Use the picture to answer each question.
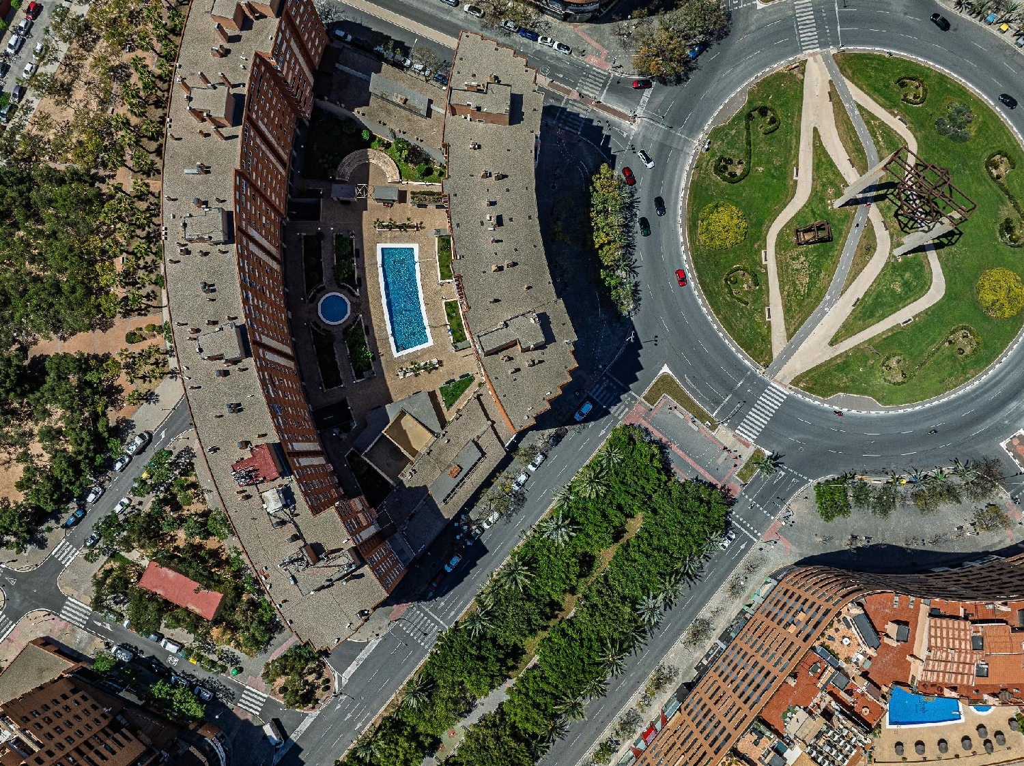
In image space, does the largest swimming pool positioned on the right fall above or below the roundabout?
below it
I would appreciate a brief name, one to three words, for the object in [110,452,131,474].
car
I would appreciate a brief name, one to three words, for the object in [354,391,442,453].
building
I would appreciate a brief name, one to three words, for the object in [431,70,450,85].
car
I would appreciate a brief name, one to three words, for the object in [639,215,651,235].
vehicle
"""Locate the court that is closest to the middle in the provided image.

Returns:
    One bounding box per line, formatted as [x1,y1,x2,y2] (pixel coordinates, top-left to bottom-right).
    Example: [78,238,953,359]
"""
[382,407,438,459]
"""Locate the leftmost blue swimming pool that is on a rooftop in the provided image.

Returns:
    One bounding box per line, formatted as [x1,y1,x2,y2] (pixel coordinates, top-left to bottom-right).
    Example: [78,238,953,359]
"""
[886,684,965,728]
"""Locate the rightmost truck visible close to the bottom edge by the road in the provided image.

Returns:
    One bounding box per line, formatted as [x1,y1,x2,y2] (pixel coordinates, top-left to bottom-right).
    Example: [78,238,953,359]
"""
[257,717,283,753]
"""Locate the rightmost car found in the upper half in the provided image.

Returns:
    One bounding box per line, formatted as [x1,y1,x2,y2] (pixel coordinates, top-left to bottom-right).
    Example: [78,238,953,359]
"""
[998,91,1021,109]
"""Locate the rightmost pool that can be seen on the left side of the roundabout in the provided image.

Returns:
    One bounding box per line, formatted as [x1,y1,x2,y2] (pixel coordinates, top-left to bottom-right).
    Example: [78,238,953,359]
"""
[377,243,433,357]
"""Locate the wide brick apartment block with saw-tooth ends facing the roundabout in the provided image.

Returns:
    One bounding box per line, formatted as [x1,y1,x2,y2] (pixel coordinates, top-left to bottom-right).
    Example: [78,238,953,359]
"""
[442,30,578,435]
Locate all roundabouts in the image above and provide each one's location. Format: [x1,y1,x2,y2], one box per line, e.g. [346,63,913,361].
[678,50,1024,414]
